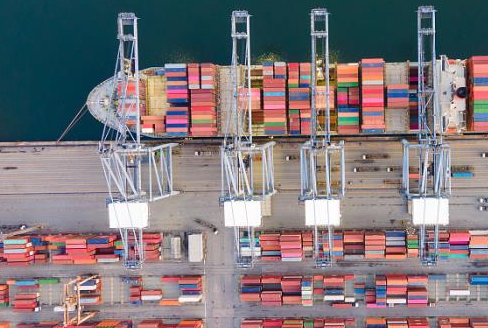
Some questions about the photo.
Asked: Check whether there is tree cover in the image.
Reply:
No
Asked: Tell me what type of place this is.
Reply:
port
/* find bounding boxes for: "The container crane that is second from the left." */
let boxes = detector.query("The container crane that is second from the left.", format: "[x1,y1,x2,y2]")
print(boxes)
[92,11,187,269]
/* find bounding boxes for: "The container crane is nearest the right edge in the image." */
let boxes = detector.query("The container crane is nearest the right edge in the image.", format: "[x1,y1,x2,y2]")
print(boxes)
[396,4,452,269]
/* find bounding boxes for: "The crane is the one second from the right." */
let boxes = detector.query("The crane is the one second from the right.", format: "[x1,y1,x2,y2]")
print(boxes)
[297,6,350,269]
